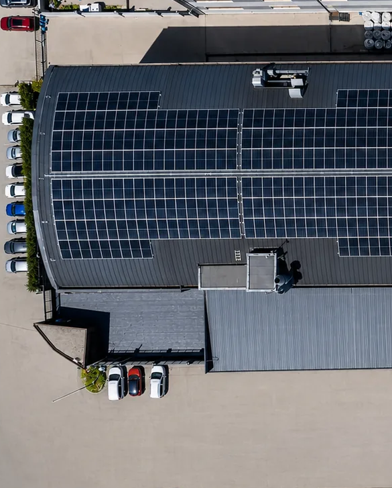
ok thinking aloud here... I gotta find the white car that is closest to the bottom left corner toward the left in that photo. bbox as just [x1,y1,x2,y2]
[107,365,127,400]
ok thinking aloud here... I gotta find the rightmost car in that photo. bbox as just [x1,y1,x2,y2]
[149,364,169,398]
